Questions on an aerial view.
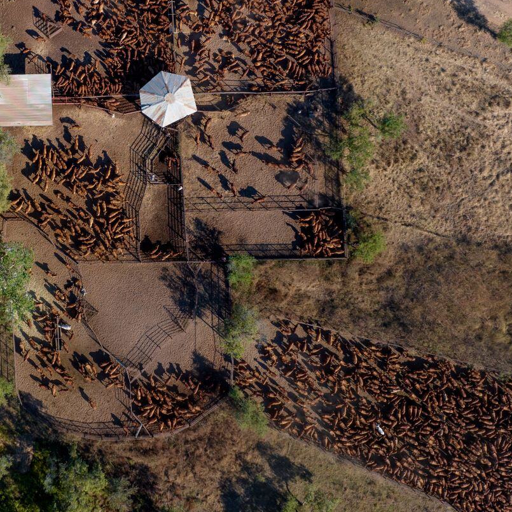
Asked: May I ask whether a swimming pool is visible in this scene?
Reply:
No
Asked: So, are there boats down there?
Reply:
No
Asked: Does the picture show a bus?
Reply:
No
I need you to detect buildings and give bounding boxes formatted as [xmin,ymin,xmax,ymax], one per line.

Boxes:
[139,70,197,130]
[0,74,53,129]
